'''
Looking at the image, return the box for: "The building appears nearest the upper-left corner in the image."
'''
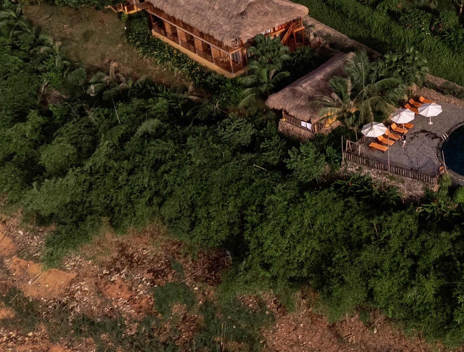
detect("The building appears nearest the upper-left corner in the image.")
[140,0,305,79]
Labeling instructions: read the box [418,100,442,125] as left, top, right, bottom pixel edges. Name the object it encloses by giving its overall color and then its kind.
white umbrella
